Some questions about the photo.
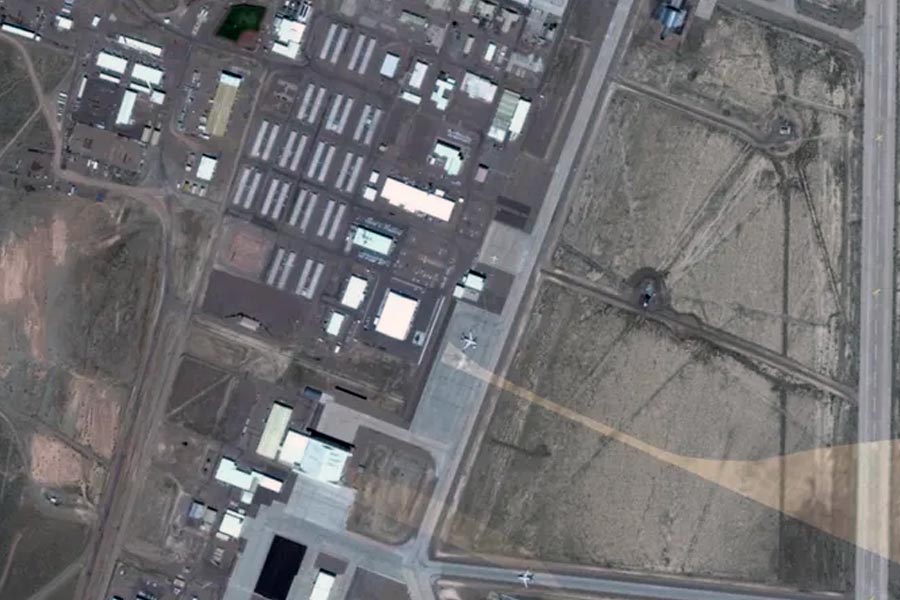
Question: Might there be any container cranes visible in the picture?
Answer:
No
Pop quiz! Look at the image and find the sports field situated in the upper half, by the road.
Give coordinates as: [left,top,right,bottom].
[217,4,265,41]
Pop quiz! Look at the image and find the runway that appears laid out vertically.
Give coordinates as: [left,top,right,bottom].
[856,0,898,600]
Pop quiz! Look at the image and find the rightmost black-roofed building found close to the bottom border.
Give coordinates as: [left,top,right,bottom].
[255,535,308,600]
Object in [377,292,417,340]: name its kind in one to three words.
hangar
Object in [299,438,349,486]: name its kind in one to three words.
hangar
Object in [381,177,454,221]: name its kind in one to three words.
building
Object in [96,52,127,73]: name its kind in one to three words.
building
